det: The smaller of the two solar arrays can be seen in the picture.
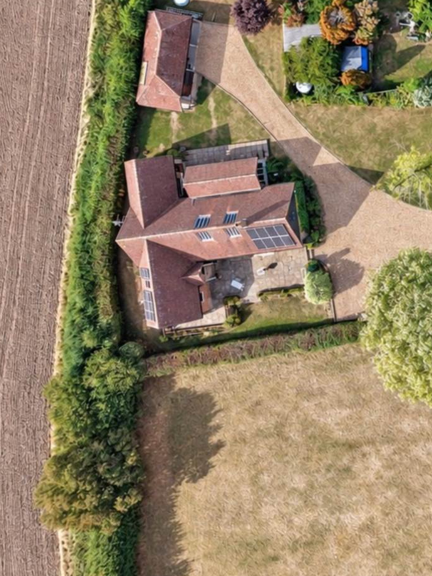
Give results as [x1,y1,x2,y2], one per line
[143,290,156,322]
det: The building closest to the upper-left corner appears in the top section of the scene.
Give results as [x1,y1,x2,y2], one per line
[136,9,202,110]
